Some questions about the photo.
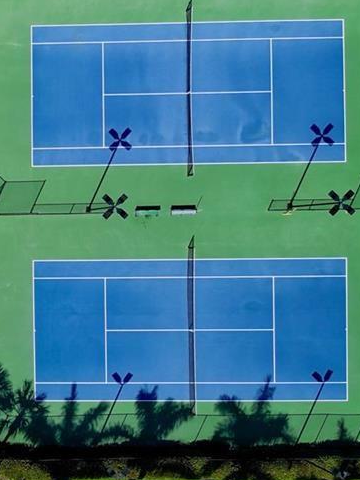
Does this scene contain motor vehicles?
No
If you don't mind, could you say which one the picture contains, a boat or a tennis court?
tennis court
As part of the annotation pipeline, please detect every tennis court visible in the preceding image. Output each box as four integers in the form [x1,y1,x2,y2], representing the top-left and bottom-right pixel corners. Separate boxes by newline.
[33,257,348,401]
[31,19,346,167]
